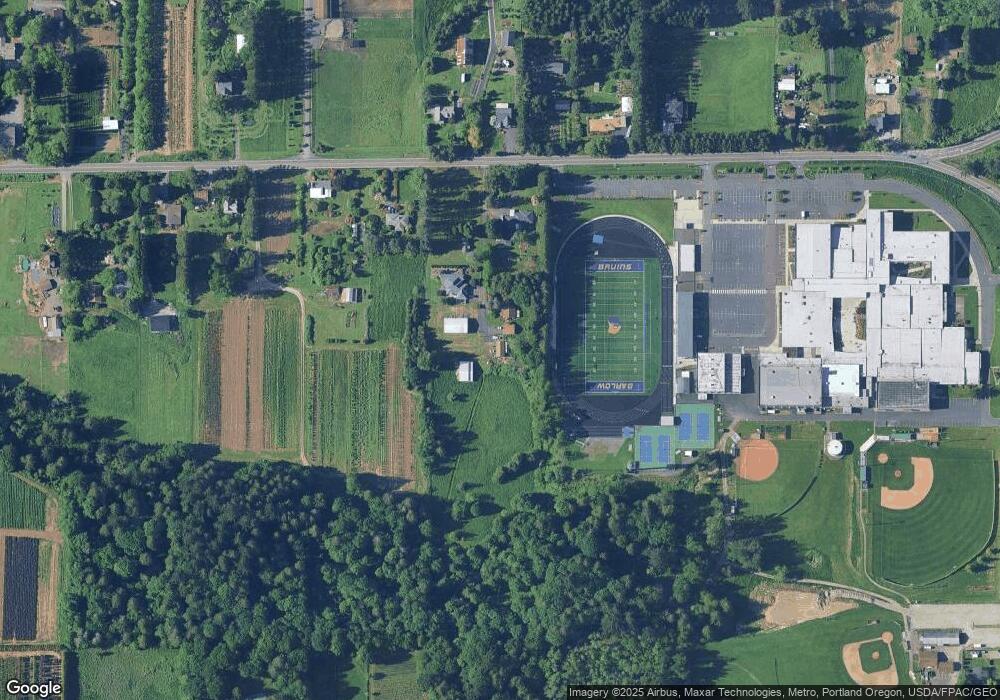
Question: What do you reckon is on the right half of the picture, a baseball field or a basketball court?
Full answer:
Looking on the right half of the picture, you will find a baseball field.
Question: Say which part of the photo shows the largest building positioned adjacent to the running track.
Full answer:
The largest building positioned adjacent to the running track is in the right part of the image.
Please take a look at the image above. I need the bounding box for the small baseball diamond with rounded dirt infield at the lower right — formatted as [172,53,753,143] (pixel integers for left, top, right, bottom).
[843,632,898,700]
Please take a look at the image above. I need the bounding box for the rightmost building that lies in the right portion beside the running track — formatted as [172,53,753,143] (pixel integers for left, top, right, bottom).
[760,209,980,414]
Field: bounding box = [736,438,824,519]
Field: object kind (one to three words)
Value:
baseball field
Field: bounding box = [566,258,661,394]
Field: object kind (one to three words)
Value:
sports field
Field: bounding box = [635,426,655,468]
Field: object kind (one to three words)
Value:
tennis court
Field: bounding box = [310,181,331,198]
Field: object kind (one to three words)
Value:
house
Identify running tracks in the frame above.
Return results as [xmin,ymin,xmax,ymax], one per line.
[553,214,673,437]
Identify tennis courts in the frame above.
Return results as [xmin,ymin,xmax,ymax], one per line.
[694,403,714,448]
[676,403,694,448]
[635,426,655,468]
[655,426,676,468]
